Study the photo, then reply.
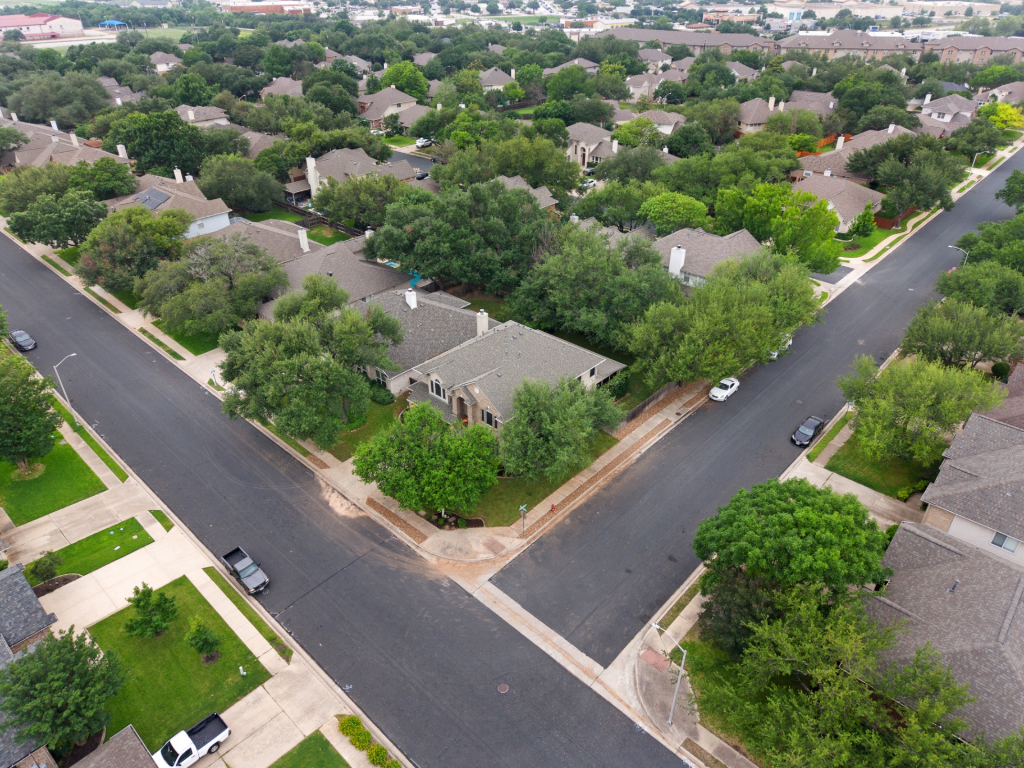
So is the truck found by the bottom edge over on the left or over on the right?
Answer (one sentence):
The truck found by the bottom edge appears in the left half of the scene.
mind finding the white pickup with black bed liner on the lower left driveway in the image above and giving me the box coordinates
[153,705,242,768]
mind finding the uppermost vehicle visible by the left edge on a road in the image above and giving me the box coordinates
[9,329,38,352]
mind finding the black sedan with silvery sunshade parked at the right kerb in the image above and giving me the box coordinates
[790,415,825,447]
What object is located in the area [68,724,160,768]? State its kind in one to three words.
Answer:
house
